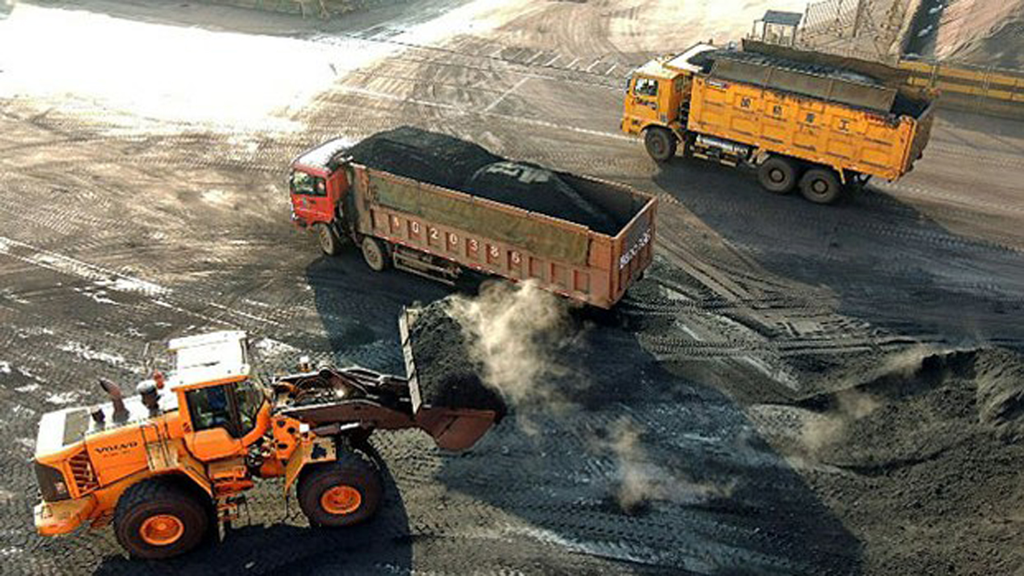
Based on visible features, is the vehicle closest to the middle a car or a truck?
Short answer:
truck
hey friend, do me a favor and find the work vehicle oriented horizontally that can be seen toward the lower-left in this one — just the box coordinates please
[31,310,497,560]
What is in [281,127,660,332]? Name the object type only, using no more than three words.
truck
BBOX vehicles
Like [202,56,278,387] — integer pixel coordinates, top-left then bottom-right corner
[281,127,660,332]
[620,35,943,203]
[31,310,497,560]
